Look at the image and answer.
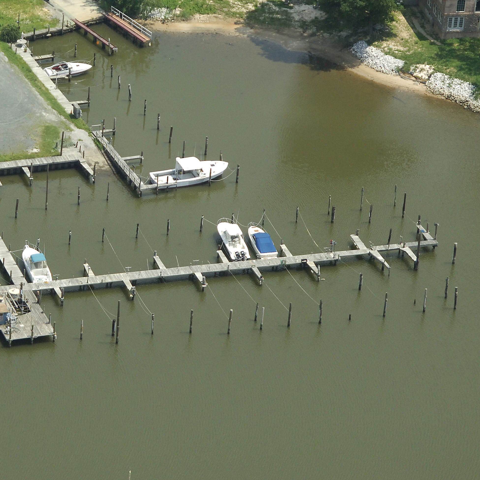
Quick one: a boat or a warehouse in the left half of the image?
boat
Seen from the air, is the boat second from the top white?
Yes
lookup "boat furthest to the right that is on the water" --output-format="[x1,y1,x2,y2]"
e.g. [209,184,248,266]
[248,221,277,261]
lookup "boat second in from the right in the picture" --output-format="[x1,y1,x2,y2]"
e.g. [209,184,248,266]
[217,218,250,263]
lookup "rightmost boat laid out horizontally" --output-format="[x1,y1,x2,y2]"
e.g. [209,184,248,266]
[147,149,228,185]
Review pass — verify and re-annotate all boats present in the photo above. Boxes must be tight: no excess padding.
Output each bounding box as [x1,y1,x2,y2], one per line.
[147,149,228,185]
[248,221,277,261]
[46,62,92,78]
[21,244,53,284]
[217,218,250,263]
